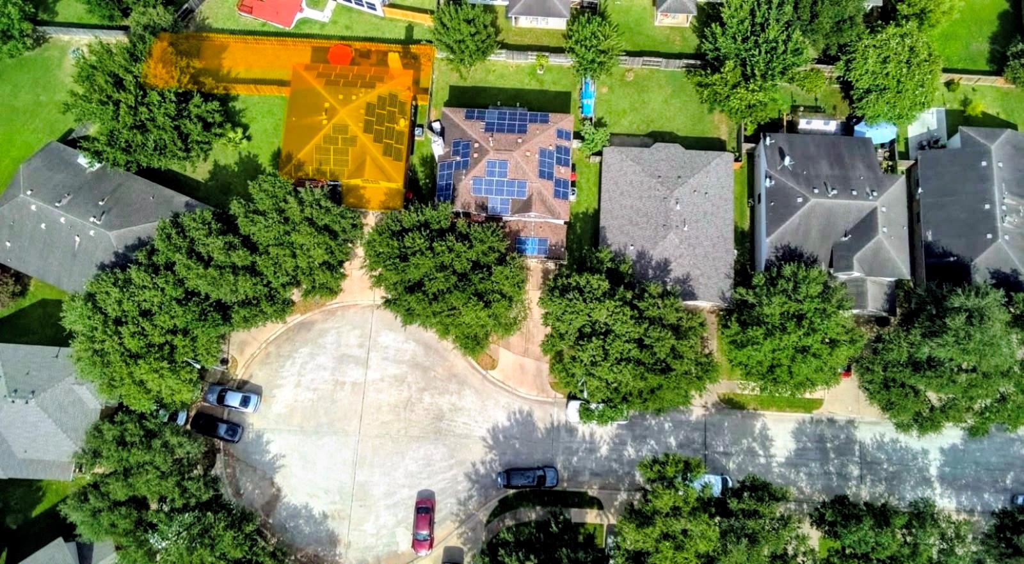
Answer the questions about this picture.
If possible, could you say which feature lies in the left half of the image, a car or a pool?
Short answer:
car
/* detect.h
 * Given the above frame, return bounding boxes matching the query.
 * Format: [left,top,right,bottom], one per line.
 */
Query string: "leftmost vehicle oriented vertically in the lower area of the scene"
[409,495,436,557]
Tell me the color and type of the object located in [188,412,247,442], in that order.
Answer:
black car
